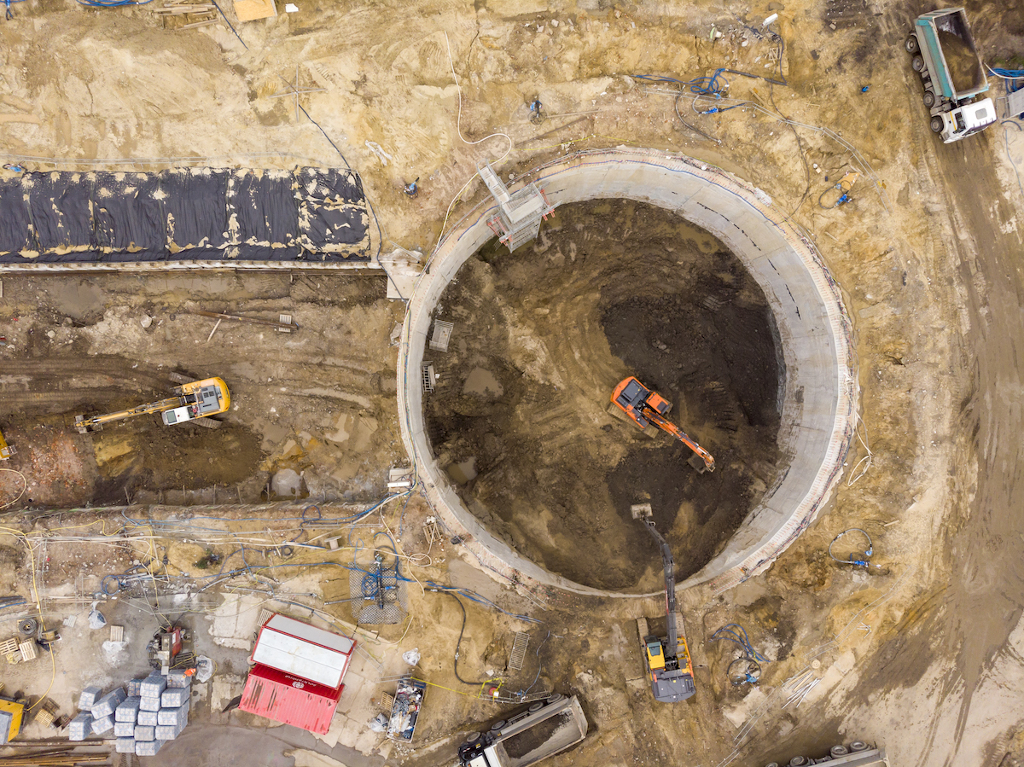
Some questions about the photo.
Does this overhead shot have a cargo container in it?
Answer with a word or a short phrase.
Yes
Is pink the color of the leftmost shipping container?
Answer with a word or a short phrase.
Yes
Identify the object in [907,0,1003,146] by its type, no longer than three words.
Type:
truck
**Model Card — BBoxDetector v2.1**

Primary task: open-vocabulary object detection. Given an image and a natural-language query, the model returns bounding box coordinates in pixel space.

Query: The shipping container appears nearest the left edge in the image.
[239,663,346,736]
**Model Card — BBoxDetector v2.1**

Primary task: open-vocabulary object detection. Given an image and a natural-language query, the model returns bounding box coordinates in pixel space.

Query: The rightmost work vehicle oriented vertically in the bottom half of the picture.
[630,499,699,709]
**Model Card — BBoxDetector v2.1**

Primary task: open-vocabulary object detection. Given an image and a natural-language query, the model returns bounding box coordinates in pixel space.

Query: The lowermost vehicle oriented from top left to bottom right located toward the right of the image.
[609,378,724,478]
